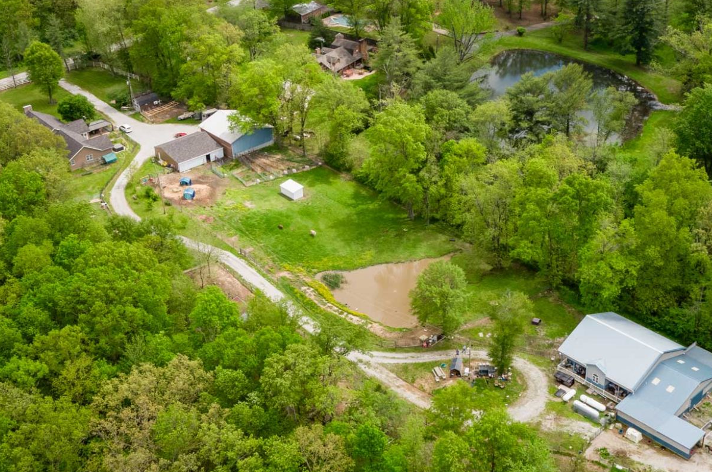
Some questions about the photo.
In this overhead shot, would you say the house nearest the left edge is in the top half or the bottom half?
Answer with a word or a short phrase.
top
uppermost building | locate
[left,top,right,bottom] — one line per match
[287,3,337,21]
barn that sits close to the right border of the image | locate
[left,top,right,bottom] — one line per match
[555,311,712,459]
